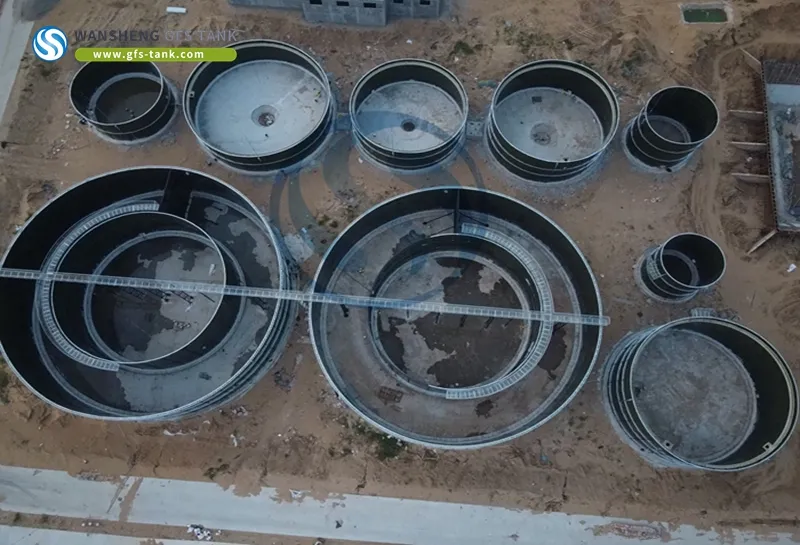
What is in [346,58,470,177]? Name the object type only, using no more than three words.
storage tank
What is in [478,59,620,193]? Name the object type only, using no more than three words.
storage tank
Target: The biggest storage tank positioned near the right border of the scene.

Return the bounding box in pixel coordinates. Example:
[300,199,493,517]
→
[599,317,798,474]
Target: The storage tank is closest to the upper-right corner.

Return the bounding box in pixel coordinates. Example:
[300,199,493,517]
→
[620,86,720,176]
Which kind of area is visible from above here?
industrial area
